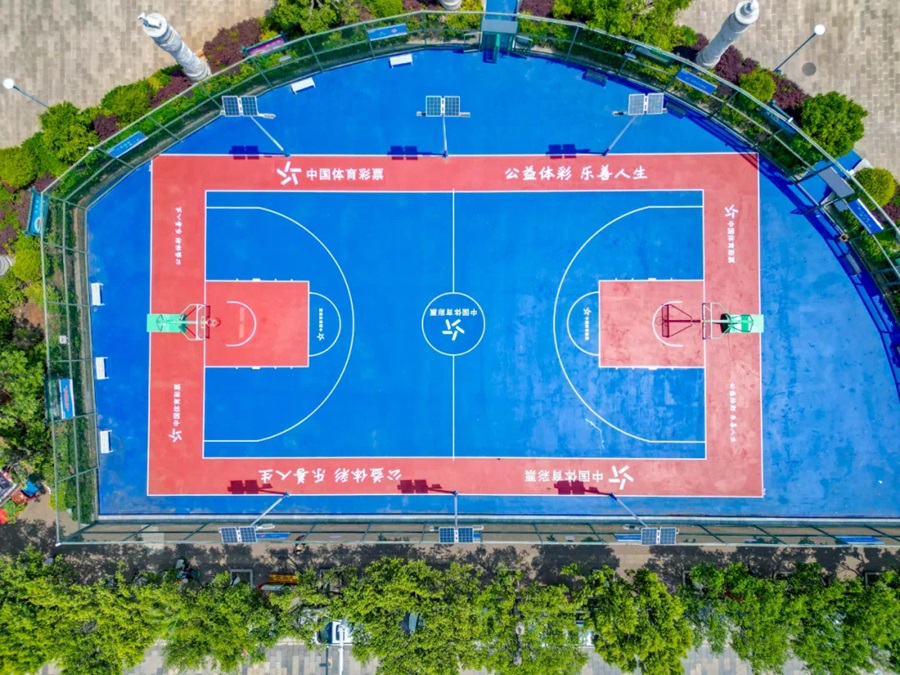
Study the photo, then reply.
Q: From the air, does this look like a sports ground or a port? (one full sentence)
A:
What you see here is a sports ground.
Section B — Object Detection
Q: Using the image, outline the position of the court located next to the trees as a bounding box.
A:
[87,47,900,515]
